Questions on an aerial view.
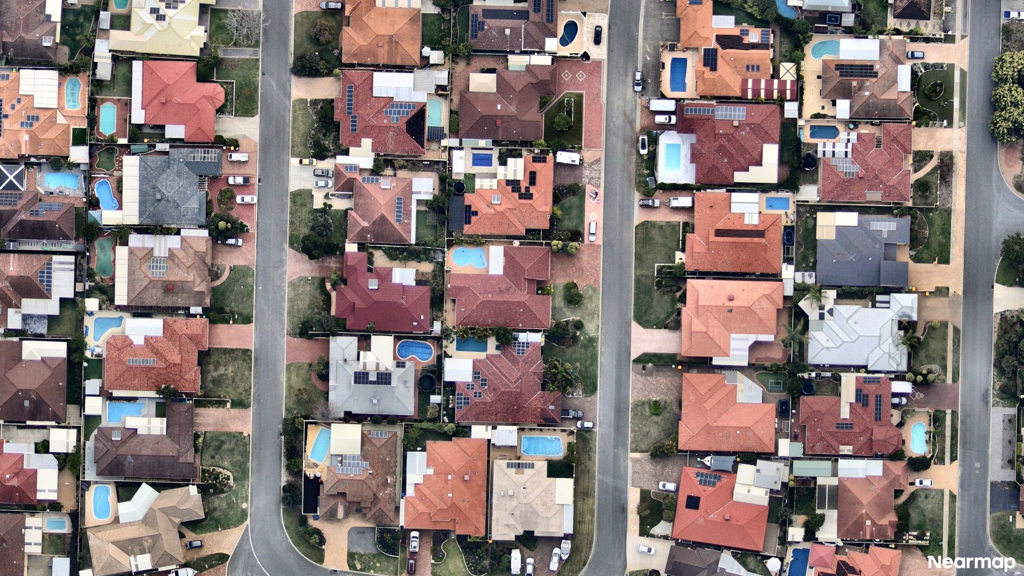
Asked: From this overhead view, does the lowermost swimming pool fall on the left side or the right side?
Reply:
right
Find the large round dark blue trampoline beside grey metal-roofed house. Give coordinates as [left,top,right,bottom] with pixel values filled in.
[419,373,436,391]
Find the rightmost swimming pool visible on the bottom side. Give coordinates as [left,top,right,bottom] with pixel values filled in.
[910,422,928,455]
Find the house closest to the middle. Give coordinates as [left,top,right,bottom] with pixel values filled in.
[449,245,551,329]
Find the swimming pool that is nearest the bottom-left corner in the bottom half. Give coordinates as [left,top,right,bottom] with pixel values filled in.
[44,516,68,531]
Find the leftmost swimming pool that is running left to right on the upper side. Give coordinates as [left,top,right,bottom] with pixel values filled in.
[43,172,80,189]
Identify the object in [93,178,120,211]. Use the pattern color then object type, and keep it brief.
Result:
blue swimming pool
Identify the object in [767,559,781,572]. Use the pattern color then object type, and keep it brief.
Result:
white umbrella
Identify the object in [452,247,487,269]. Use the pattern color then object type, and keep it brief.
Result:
blue swimming pool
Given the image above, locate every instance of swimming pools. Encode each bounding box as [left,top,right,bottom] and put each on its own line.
[93,178,120,211]
[670,57,688,92]
[773,0,799,20]
[98,101,118,136]
[112,0,129,11]
[63,76,82,111]
[107,402,147,424]
[91,314,125,343]
[786,547,810,576]
[809,37,840,60]
[94,236,115,279]
[455,336,489,353]
[806,124,840,140]
[910,422,928,455]
[43,172,80,189]
[471,152,494,168]
[452,247,487,269]
[427,97,444,130]
[559,19,579,48]
[44,516,68,531]
[663,140,684,172]
[92,483,112,521]
[308,426,331,464]
[520,434,564,457]
[396,339,435,363]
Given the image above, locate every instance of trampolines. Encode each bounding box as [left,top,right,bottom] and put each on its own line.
[827,14,840,24]
[803,152,818,169]
[419,373,436,391]
[779,399,790,416]
[802,380,815,393]
[784,230,794,245]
